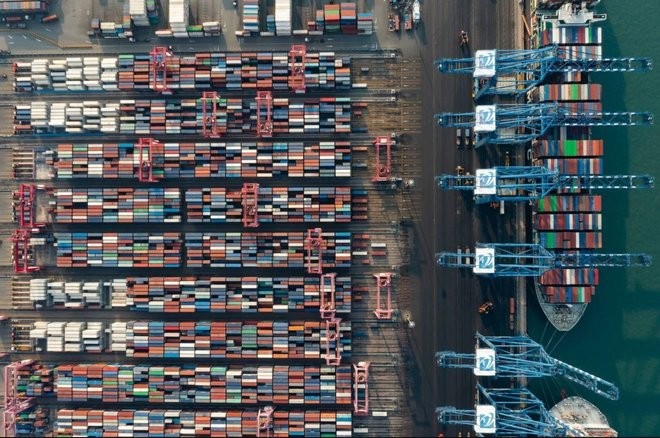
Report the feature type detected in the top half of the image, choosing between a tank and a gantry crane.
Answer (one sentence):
The feature located in the top half of the image is a gantry crane.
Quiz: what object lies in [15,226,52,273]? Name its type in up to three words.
container crane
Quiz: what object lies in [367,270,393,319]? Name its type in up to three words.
container crane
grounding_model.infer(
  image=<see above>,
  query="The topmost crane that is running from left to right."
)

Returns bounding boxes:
[436,41,652,102]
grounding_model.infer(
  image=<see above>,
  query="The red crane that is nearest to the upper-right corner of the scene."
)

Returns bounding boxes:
[367,135,393,184]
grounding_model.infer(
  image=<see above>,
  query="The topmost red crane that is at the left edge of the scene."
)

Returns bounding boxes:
[21,182,57,228]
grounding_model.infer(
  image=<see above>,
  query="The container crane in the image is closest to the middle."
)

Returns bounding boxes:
[302,226,328,273]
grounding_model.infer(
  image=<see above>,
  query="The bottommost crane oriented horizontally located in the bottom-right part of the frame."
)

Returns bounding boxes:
[436,374,600,438]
